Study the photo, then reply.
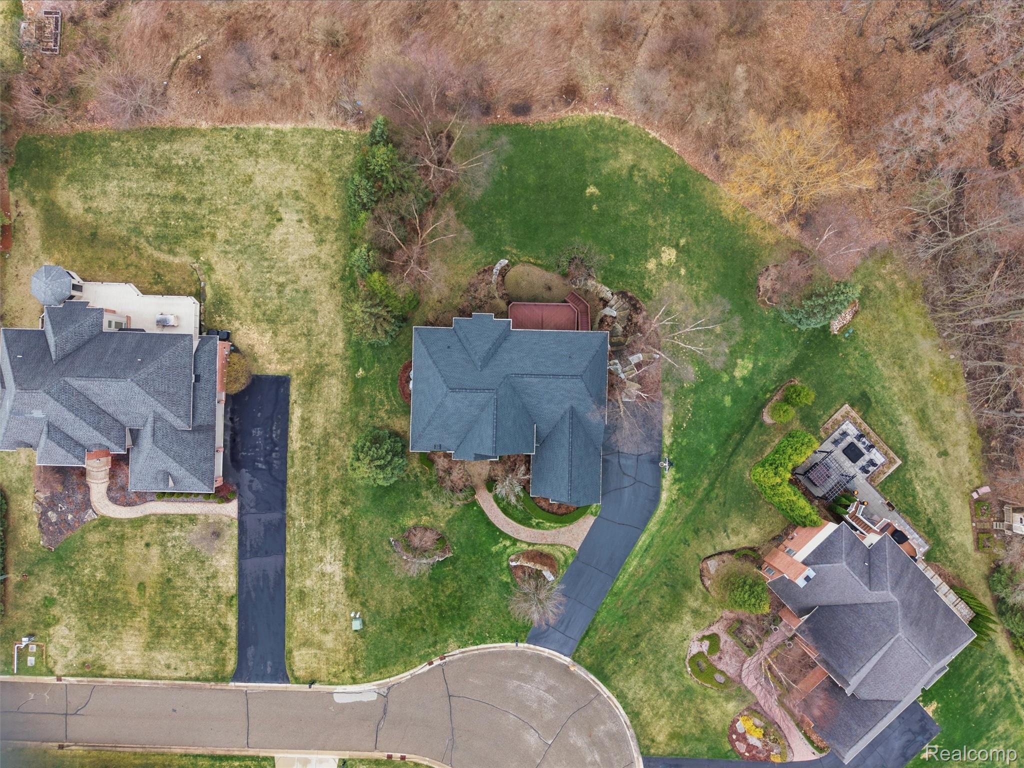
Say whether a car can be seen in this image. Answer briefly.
No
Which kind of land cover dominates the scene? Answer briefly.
grass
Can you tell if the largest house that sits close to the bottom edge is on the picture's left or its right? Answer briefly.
right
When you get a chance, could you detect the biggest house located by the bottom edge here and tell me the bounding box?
[756,513,978,762]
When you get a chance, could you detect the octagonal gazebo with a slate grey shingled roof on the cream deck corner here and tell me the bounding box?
[32,266,82,305]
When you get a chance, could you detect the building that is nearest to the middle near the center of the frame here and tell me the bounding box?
[409,313,610,510]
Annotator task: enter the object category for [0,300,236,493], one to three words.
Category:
house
